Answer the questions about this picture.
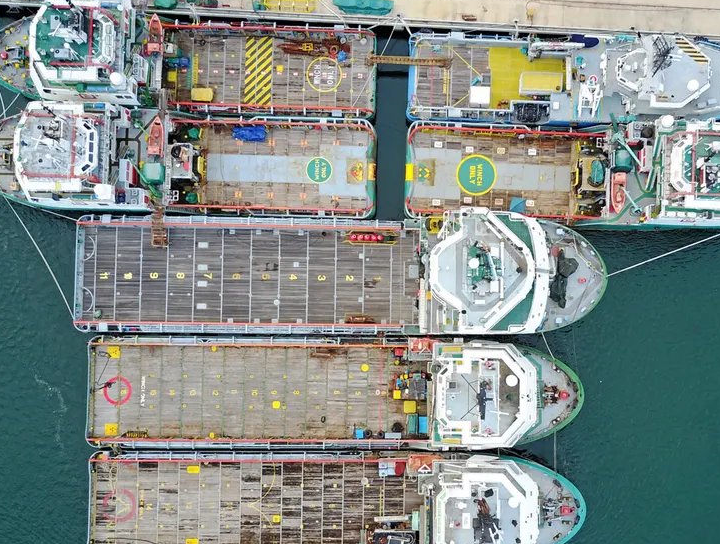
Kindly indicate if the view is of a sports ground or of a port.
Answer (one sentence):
The picture captures a port.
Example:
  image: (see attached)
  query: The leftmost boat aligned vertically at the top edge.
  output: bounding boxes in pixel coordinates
[147,14,166,58]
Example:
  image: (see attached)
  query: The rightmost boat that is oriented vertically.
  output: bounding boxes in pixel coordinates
[612,173,626,213]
